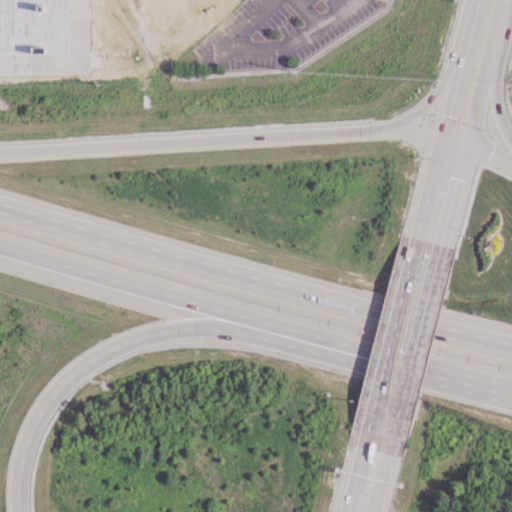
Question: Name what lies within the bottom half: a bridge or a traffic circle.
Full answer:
Visible within the bottom half is a bridge.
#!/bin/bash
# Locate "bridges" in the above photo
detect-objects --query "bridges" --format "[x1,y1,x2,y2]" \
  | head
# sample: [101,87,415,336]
[346,237,456,458]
